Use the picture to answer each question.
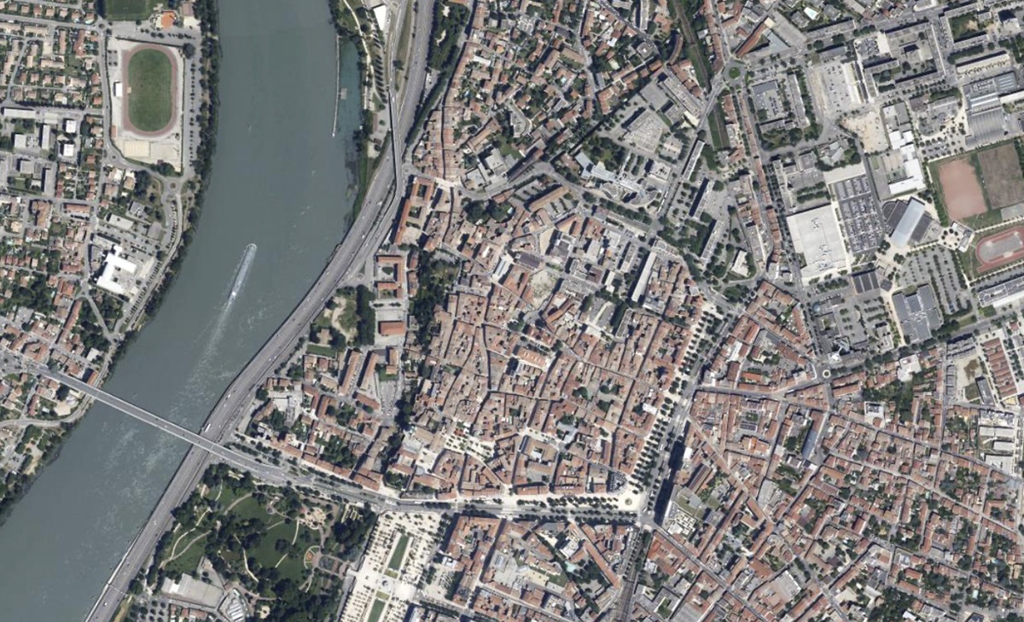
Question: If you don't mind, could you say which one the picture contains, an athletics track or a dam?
athletics track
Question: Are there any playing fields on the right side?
Yes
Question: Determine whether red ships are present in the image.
No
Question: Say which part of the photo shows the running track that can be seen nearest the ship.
top left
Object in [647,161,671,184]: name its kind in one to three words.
building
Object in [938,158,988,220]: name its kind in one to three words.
sports field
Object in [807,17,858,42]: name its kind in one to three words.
building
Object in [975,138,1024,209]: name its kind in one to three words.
sports field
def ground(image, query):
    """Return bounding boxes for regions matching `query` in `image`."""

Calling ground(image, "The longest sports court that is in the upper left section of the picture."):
[116,138,179,163]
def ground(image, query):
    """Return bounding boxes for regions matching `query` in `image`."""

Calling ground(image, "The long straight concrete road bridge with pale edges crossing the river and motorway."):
[36,363,296,482]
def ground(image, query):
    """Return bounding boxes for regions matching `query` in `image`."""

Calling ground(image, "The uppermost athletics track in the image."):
[111,38,183,143]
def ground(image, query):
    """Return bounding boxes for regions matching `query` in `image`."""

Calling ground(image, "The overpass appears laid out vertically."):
[352,82,403,271]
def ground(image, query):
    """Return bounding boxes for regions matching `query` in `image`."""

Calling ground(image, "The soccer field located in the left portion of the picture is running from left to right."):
[105,0,151,20]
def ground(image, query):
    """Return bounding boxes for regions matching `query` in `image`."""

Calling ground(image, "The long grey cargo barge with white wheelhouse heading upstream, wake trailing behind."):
[229,246,253,300]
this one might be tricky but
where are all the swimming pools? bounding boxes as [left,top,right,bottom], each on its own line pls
[804,7,818,19]
[564,562,576,572]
